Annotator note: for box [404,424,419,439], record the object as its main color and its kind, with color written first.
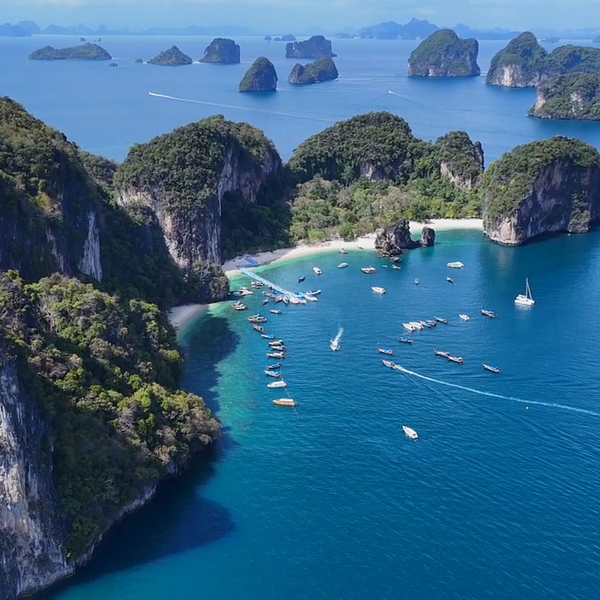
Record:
white boat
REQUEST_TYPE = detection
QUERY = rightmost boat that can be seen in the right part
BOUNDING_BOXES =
[516,283,535,305]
